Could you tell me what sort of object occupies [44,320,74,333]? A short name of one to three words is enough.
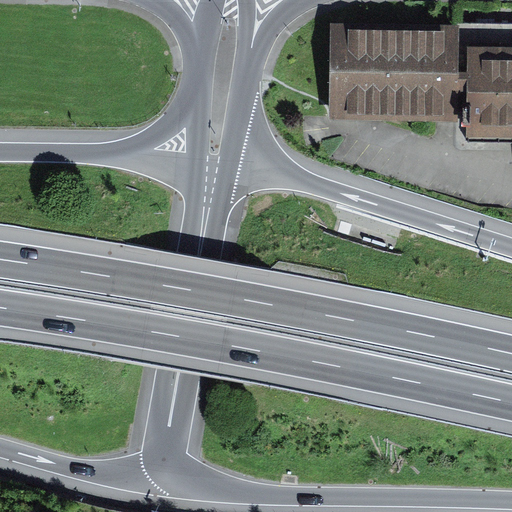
vehicle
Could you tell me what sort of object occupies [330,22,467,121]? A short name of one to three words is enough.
building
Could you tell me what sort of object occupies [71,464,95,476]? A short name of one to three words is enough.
vehicle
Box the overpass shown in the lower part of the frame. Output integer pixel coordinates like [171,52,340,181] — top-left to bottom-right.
[143,250,238,378]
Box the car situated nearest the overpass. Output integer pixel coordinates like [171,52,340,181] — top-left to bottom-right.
[232,352,258,364]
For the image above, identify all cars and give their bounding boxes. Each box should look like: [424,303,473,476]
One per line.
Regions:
[71,464,95,476]
[232,352,258,364]
[20,248,38,260]
[44,320,74,333]
[299,495,323,506]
